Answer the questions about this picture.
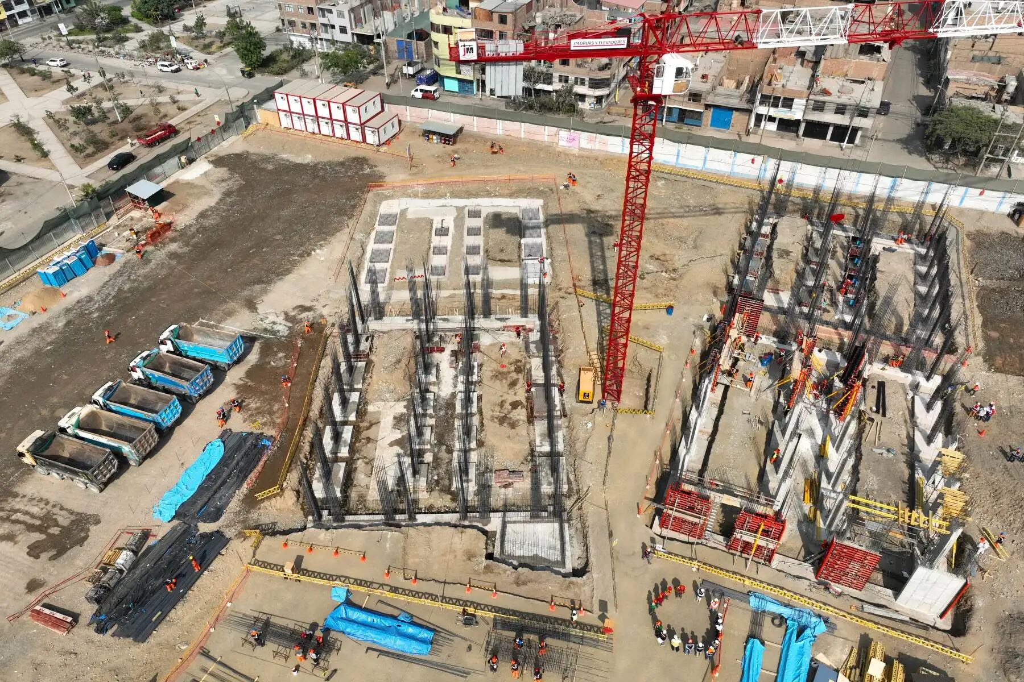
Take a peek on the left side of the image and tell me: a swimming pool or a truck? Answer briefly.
truck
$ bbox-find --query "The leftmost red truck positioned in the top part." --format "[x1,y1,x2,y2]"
[133,122,175,148]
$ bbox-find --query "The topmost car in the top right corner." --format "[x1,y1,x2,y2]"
[876,101,894,115]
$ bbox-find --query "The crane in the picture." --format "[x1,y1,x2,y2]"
[452,0,1024,406]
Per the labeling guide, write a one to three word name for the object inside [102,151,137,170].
car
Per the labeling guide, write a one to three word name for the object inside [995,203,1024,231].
work vehicle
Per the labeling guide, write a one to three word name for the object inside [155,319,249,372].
truck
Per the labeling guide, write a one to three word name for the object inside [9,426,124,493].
truck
